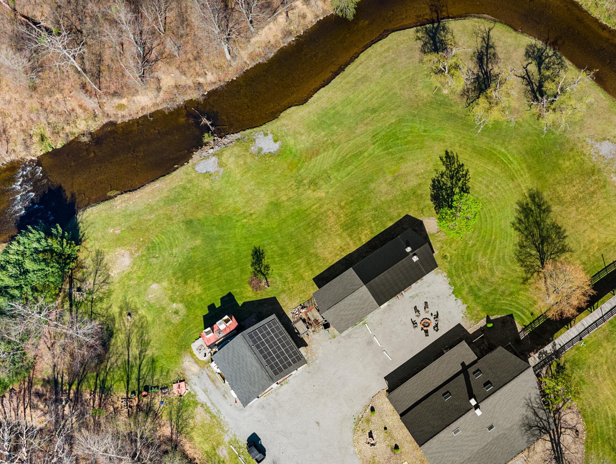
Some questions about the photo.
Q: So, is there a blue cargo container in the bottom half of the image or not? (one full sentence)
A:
No, the scene shows no blue cargo container in the bottom half of the image.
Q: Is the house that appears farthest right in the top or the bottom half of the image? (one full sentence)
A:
It is in the bottom half that the house that appears farthest right appears.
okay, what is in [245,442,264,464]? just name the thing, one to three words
car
